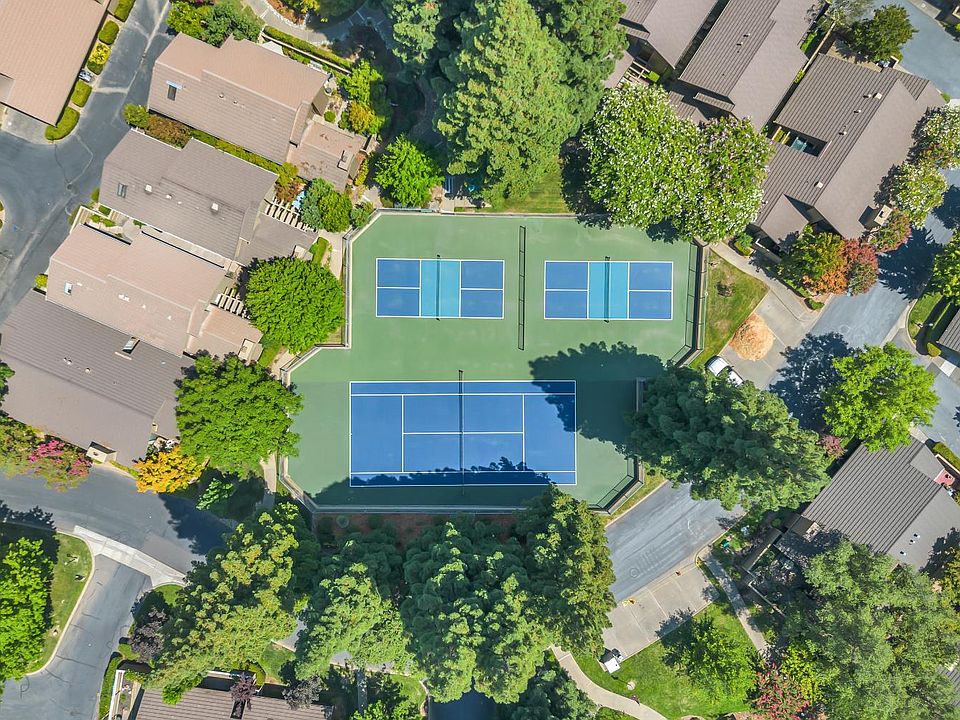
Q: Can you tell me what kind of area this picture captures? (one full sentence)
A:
The area seen from above is a residential area.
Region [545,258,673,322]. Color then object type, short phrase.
blue sports court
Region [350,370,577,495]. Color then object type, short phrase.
blue tennis court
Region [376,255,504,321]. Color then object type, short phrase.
blue sports court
